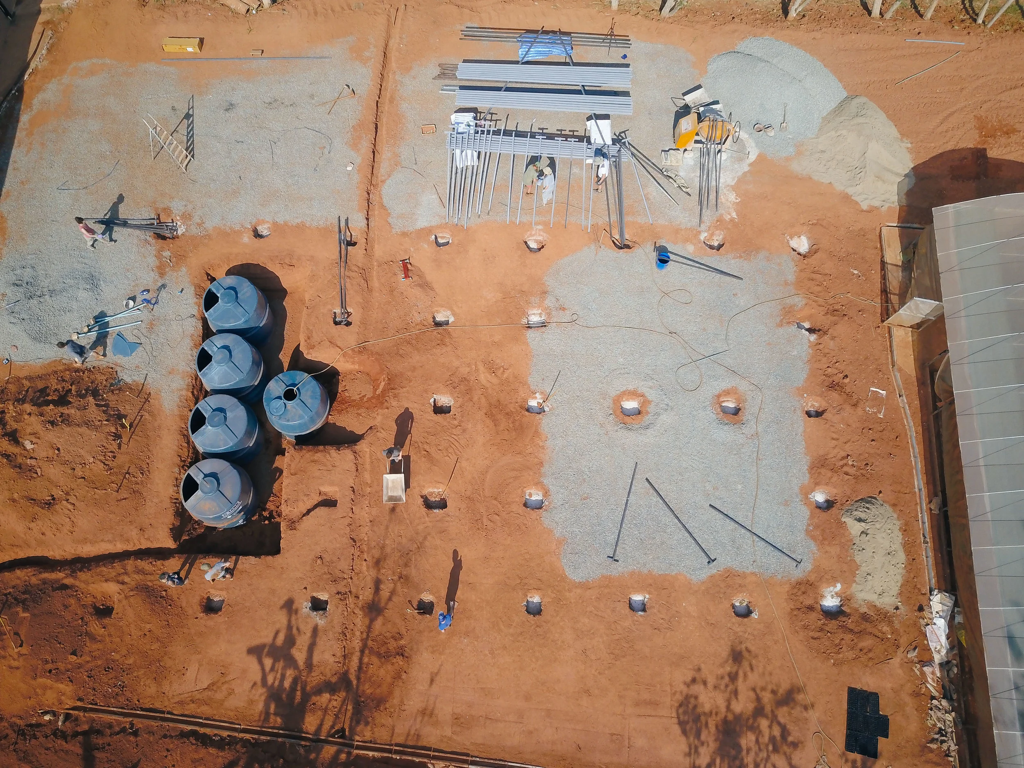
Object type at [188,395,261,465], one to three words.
water tank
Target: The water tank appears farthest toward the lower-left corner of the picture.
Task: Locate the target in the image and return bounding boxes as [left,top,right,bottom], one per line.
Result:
[180,460,256,529]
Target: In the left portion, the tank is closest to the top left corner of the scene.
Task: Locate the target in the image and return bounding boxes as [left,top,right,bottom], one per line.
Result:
[202,276,271,345]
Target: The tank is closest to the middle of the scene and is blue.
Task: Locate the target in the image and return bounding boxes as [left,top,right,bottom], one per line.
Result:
[263,373,330,443]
